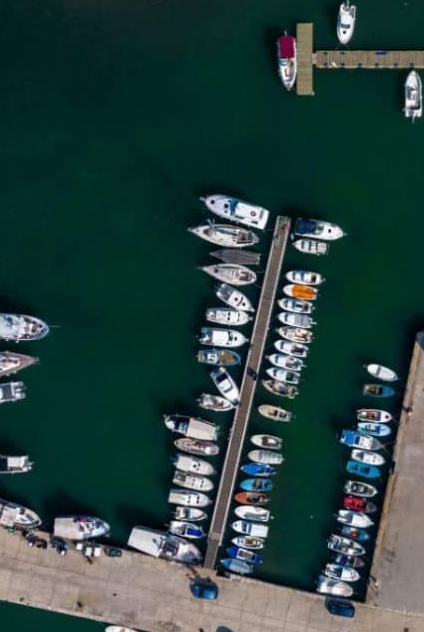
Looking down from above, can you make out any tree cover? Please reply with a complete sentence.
No, there is no tree cover in the image.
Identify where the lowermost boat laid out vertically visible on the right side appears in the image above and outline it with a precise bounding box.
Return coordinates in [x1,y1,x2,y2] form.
[405,70,422,120]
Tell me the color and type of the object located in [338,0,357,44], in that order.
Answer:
white boat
